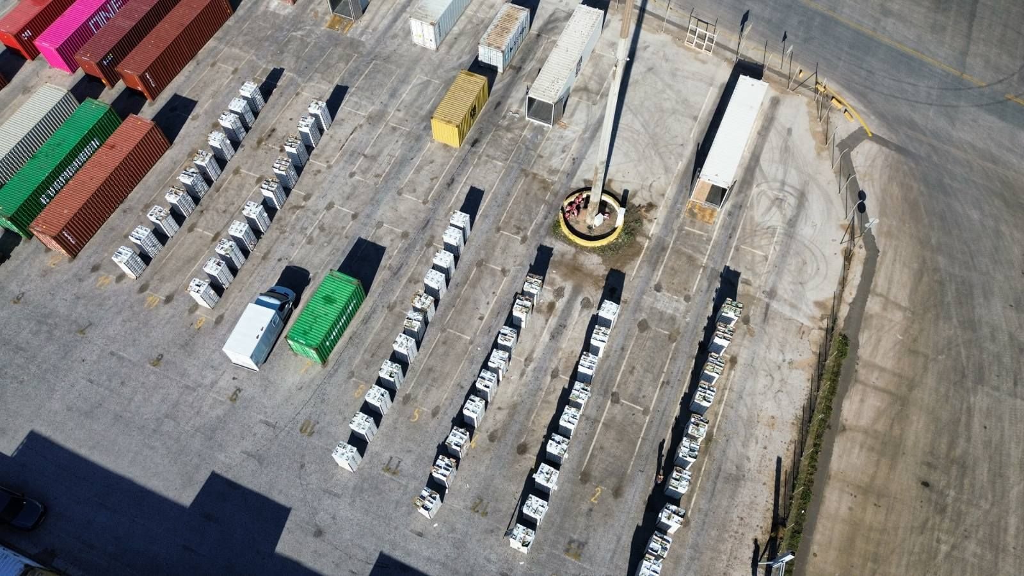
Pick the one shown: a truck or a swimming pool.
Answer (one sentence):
I can see a truck in this picture.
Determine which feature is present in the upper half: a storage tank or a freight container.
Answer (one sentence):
What appears in the upper half is a freight container.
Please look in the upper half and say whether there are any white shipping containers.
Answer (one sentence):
Yes, looking in the upper half, one can make out a white shipping container.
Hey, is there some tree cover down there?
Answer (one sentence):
No, there's no tree cover in this view.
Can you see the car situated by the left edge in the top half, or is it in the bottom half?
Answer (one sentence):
You can find the car situated by the left edge in the bottom half.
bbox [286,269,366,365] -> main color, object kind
green shipping container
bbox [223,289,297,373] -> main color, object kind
white truck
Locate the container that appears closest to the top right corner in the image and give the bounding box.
[691,74,768,209]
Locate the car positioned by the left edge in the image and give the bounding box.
[0,487,51,537]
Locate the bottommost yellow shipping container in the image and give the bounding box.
[431,69,488,147]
